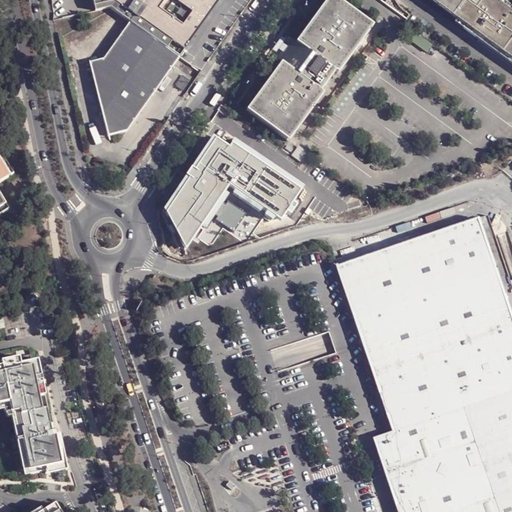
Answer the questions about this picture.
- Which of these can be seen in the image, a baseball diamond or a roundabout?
roundabout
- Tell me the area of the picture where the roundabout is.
left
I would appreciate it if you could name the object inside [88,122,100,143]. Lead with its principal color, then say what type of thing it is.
white vehicle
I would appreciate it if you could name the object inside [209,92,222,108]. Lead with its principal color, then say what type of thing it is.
white vehicle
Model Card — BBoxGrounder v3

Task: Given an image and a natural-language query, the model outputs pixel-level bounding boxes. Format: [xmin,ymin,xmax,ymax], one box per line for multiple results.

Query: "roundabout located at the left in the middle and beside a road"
[72,196,152,270]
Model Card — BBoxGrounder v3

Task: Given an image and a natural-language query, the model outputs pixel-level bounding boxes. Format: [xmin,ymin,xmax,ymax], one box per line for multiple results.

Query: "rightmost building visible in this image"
[428,0,512,64]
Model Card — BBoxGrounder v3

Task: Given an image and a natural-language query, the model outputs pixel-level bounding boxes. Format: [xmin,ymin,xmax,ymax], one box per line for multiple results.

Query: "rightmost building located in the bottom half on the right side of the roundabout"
[336,216,512,512]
